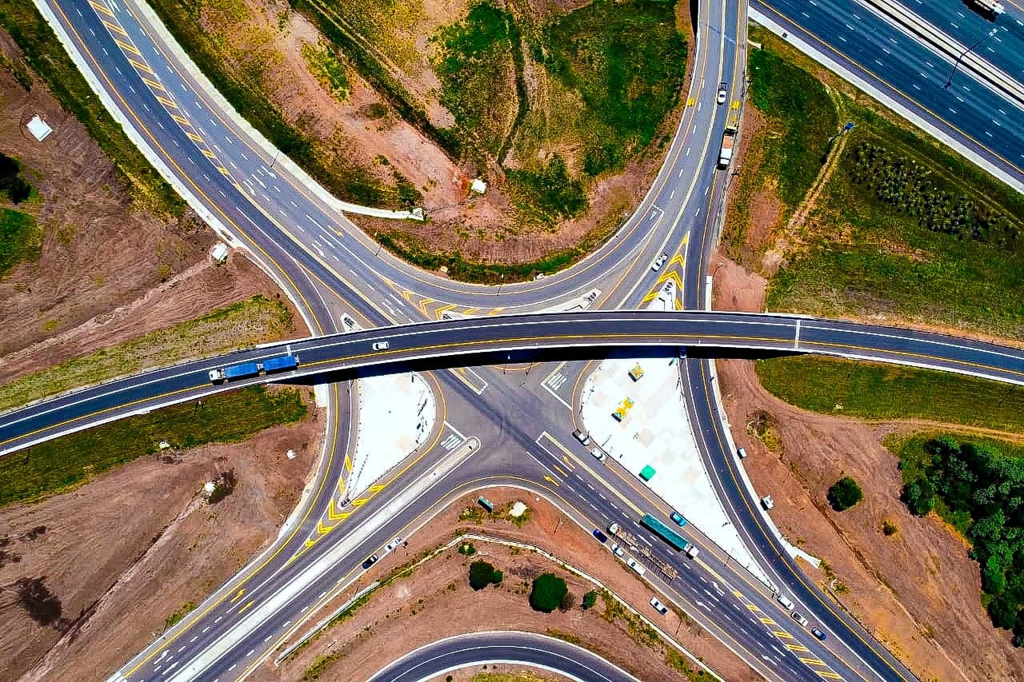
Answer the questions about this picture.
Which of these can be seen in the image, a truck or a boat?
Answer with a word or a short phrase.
truck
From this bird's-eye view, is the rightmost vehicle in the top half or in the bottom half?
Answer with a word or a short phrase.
top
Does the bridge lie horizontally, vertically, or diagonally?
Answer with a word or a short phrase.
horizontally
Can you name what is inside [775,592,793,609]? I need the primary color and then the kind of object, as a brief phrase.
white vehicle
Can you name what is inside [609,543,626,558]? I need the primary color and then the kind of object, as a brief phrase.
white vehicle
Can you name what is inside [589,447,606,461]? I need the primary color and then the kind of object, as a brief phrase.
white car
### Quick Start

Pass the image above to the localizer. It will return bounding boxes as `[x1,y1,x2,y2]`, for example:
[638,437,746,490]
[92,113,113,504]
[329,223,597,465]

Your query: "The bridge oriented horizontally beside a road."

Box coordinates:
[258,309,824,378]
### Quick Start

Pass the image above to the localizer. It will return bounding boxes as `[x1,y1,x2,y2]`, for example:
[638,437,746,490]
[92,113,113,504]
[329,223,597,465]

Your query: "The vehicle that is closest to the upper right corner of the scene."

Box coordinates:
[962,0,1004,20]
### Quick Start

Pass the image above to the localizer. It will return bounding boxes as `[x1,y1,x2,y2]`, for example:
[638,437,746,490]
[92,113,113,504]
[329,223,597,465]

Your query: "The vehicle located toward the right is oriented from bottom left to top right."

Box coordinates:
[652,252,668,271]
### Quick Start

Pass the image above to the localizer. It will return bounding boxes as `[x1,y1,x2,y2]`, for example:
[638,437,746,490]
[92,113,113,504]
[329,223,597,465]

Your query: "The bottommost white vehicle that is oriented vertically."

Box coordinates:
[719,126,738,167]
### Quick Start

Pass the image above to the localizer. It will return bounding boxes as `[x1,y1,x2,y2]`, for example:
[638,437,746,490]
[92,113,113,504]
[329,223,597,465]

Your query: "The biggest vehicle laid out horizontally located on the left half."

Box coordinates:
[210,355,301,381]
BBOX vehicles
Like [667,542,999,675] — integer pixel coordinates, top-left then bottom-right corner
[678,345,686,361]
[609,543,626,558]
[210,355,301,381]
[669,510,687,526]
[626,557,646,575]
[362,553,379,568]
[962,0,1004,20]
[789,609,808,626]
[591,528,607,543]
[607,522,678,581]
[589,447,606,461]
[809,626,825,639]
[383,536,403,551]
[716,83,726,105]
[641,510,702,559]
[719,126,738,167]
[775,592,793,609]
[652,252,668,271]
[570,428,589,445]
[649,597,667,614]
